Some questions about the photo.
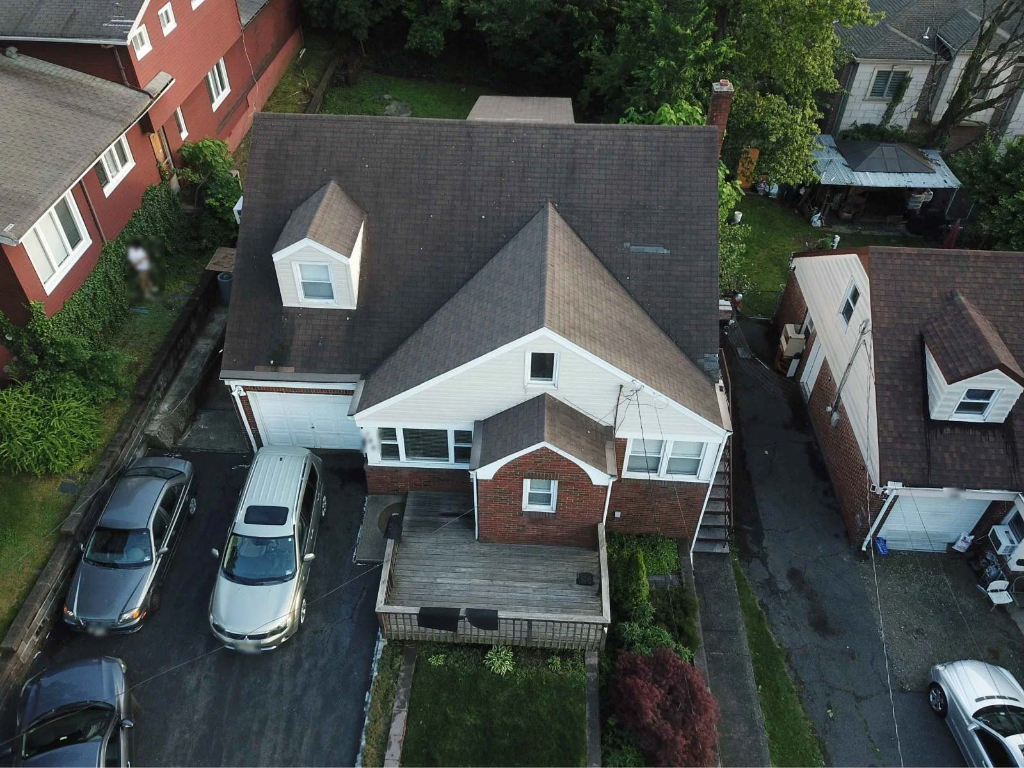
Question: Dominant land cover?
buildings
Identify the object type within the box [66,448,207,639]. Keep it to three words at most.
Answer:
car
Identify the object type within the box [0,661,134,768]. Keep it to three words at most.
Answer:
car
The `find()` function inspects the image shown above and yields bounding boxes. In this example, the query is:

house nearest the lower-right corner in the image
[780,249,1024,560]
